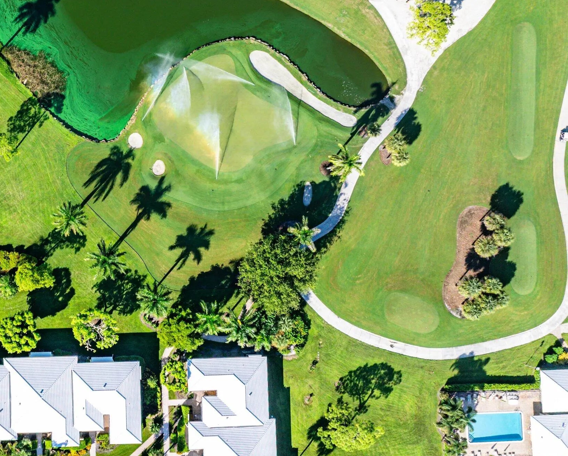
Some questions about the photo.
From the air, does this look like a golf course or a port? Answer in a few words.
golf course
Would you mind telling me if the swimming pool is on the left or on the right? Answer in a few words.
right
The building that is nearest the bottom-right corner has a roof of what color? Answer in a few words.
white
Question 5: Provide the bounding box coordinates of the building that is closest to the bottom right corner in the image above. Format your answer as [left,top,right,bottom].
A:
[524,413,568,456]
